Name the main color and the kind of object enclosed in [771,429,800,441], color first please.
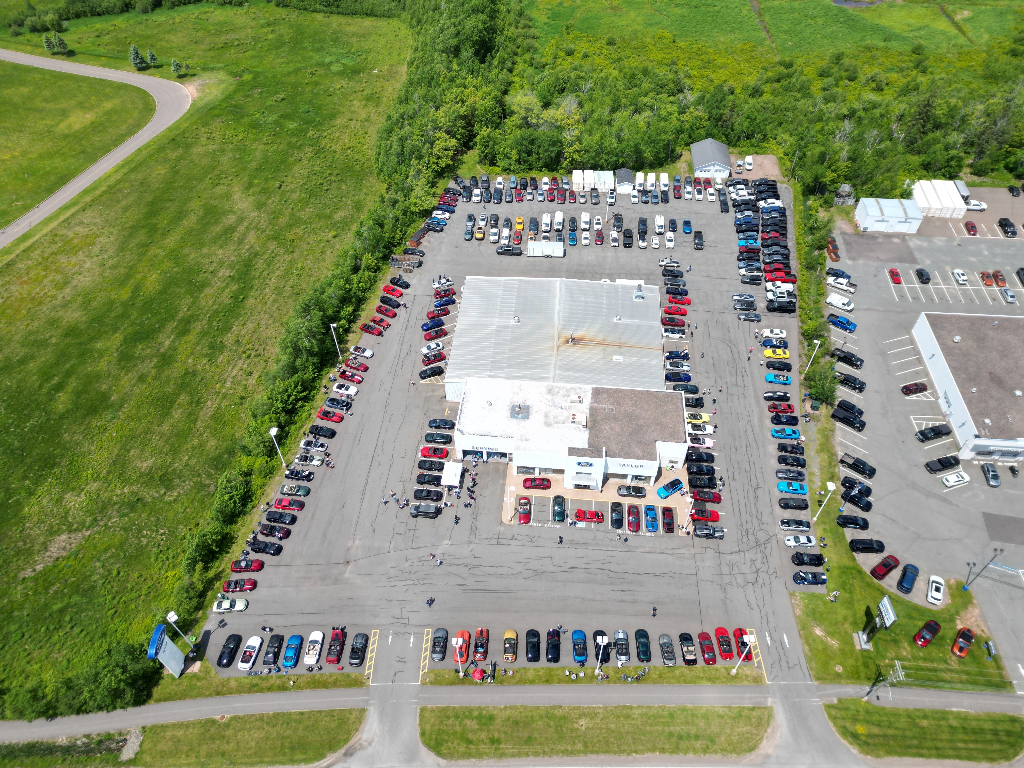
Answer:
blue vehicle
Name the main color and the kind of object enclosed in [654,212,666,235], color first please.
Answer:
white vehicle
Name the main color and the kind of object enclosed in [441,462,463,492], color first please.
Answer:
white tent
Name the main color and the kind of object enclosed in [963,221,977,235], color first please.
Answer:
red car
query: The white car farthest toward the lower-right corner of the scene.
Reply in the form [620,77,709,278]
[926,575,945,604]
